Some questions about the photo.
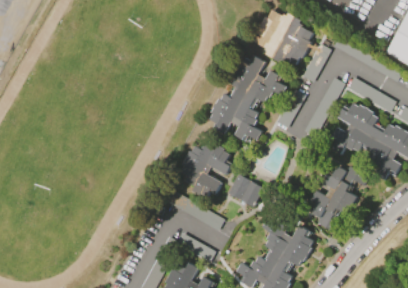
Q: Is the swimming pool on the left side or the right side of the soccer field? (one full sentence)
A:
Compared with the soccer field, the swimming pool is located further to the right.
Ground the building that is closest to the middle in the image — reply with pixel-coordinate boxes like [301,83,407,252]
[190,144,231,197]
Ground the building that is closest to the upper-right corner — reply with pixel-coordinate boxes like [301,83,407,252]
[388,14,408,63]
